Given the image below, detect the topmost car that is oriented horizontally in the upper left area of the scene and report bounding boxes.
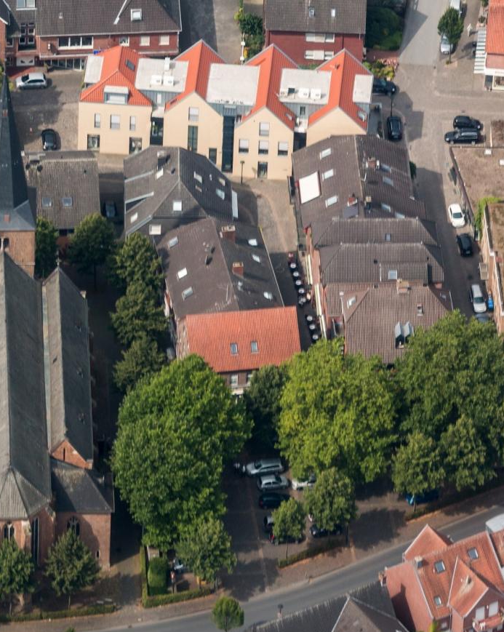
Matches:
[15,73,49,89]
